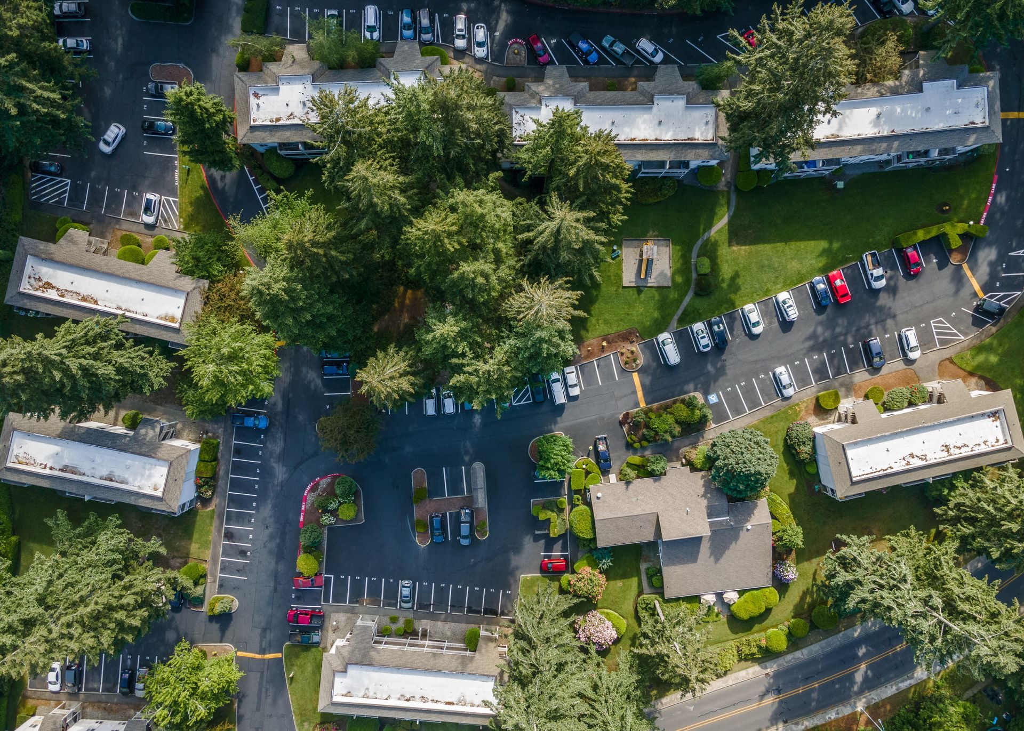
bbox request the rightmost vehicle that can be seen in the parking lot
[977,296,1009,319]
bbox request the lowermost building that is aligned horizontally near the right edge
[815,379,1024,503]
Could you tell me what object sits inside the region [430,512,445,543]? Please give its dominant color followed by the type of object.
blue car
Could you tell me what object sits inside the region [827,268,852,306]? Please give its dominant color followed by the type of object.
red car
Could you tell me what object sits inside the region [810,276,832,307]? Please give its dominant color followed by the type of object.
blue car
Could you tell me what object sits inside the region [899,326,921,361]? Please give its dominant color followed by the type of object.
white car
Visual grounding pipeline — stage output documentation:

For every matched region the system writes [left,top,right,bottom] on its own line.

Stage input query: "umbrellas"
[699,593,715,606]
[722,590,738,604]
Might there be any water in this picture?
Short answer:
No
